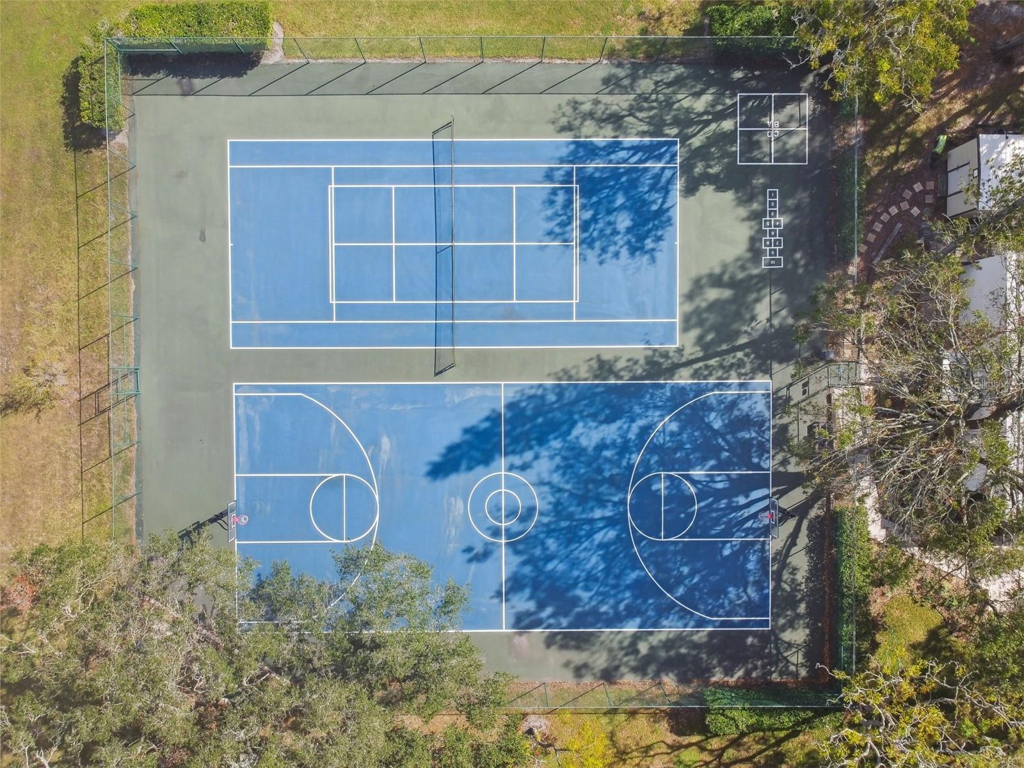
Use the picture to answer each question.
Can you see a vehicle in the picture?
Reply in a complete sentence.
No, this view has no vehicle in it.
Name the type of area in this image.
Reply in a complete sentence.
The picture captures a sports ground.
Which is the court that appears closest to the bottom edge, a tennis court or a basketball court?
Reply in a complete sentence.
I'd say the court that appears closest to the bottom edge is a basketball court.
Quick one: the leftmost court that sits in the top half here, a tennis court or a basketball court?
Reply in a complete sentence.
Specifically, the leftmost court that sits in the top half is a tennis court.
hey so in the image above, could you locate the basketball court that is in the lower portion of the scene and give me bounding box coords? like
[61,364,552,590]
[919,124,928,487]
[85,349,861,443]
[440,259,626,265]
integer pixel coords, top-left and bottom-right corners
[233,381,771,632]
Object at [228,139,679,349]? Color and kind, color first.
blue tennis court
